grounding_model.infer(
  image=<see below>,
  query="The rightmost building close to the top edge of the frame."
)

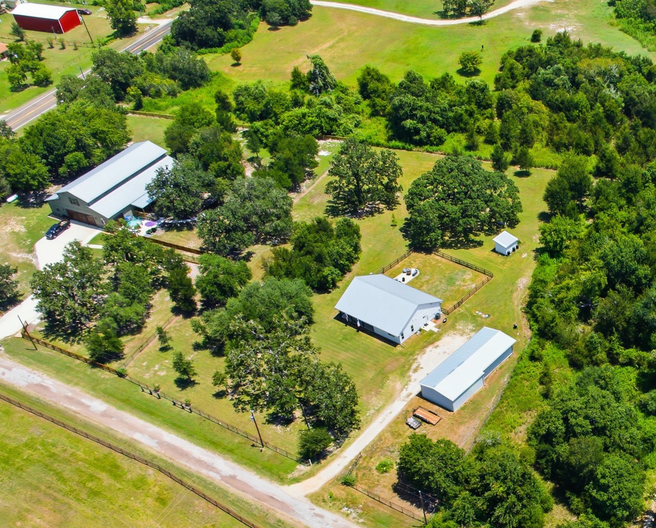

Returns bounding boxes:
[14,6,80,33]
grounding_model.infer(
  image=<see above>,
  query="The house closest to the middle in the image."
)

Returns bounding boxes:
[334,275,442,347]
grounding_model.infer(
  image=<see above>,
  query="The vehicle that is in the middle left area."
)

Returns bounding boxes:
[44,220,70,236]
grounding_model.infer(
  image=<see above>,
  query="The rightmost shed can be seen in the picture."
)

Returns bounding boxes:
[493,233,518,255]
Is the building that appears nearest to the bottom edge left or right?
right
